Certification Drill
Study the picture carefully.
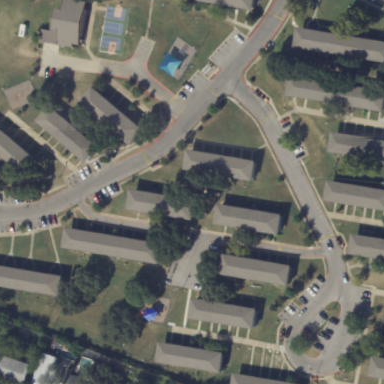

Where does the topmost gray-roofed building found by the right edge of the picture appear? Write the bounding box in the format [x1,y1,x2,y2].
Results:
[292,27,384,60]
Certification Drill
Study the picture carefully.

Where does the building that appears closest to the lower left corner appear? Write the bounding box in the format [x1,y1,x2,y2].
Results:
[0,356,29,379]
